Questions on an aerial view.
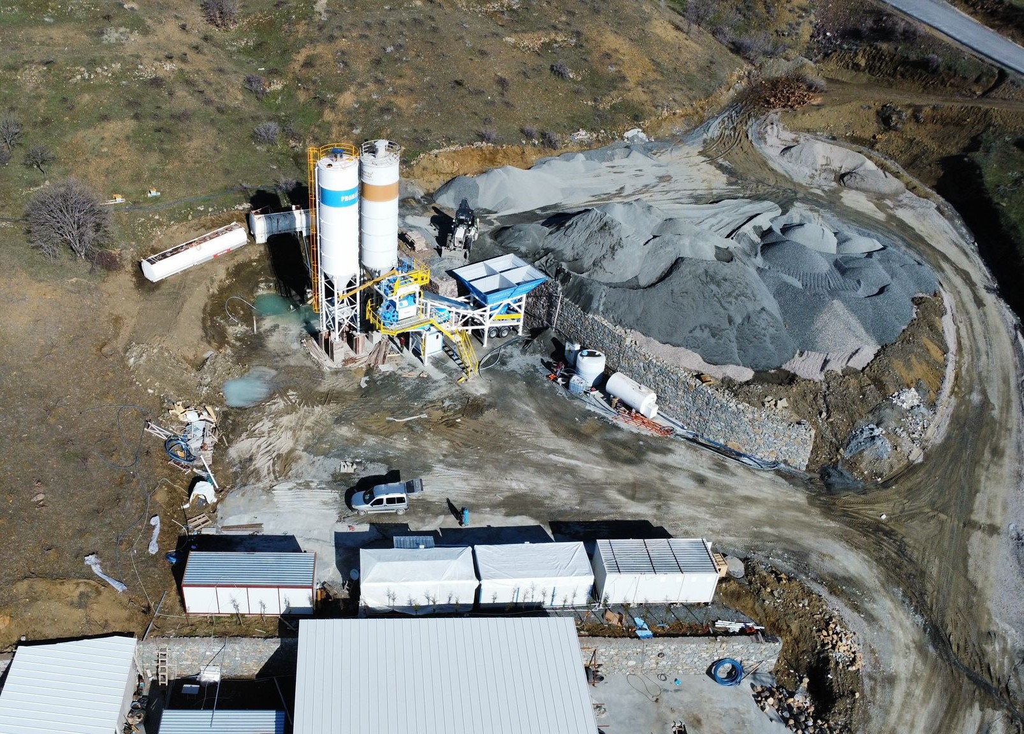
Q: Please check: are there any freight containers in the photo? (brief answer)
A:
Yes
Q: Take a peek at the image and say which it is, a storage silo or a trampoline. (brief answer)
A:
storage silo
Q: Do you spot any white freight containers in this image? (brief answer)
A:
Yes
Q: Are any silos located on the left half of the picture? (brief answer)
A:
Yes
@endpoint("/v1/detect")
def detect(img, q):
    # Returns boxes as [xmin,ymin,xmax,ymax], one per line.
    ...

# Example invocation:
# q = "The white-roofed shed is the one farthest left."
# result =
[0,631,143,734]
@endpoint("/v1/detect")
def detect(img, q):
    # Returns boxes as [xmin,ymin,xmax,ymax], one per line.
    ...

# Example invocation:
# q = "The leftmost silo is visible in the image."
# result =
[308,142,366,358]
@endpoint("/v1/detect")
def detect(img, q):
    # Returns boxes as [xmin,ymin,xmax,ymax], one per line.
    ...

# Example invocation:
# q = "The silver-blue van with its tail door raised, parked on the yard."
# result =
[350,477,423,515]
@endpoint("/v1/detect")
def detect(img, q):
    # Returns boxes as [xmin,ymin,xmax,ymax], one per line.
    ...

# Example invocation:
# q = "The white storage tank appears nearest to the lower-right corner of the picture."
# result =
[605,372,658,417]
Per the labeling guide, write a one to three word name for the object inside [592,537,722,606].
shipping container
